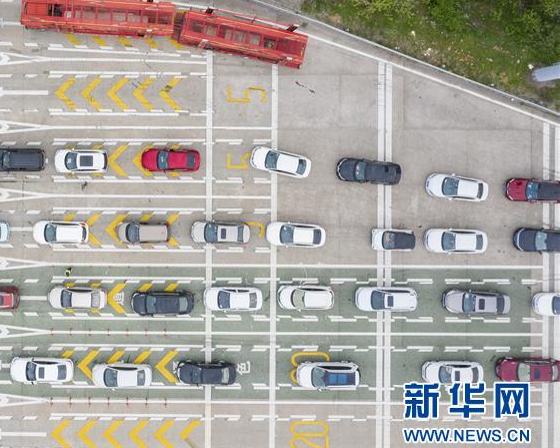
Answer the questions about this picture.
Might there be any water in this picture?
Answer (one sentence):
No, no water is visible.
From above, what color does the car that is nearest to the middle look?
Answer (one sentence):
The car that is nearest to the middle is white.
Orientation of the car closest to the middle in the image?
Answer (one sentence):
The car closest to the middle is laid out from left to right.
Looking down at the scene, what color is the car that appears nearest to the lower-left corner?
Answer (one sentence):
The car that appears nearest to the lower-left corner looks white in the image.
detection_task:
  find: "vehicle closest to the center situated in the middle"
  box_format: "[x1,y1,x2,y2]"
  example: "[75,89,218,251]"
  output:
[265,220,326,248]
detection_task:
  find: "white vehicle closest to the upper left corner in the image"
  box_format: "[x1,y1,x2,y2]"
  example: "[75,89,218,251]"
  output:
[54,147,107,174]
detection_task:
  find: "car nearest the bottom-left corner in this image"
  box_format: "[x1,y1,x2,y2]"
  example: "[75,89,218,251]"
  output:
[11,356,73,385]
